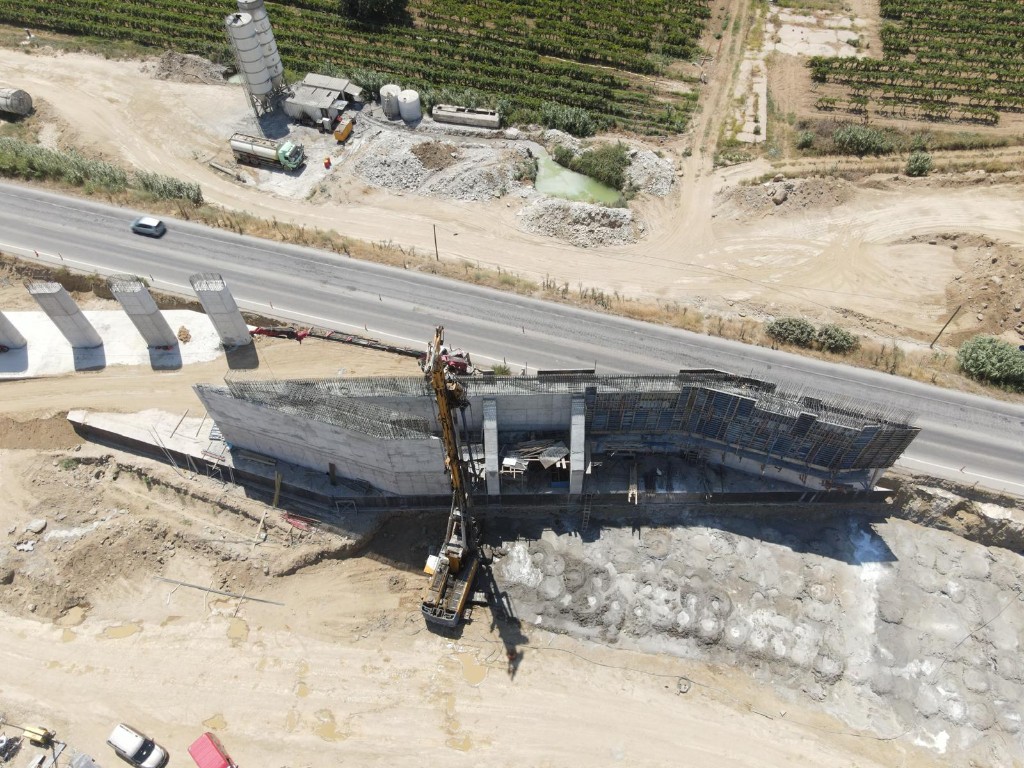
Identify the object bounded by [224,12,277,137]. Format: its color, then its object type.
gray silo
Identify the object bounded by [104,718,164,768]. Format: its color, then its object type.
white car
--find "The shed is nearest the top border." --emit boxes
[276,68,365,128]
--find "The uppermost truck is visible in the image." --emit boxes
[228,131,301,168]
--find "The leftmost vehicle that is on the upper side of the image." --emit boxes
[129,220,166,240]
